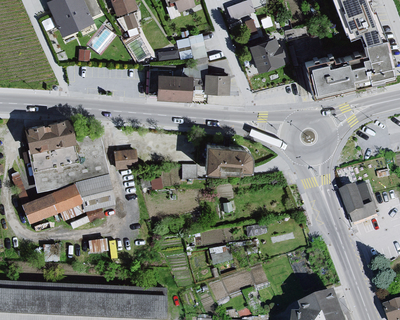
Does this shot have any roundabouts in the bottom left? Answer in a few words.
No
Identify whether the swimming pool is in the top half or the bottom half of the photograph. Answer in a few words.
top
